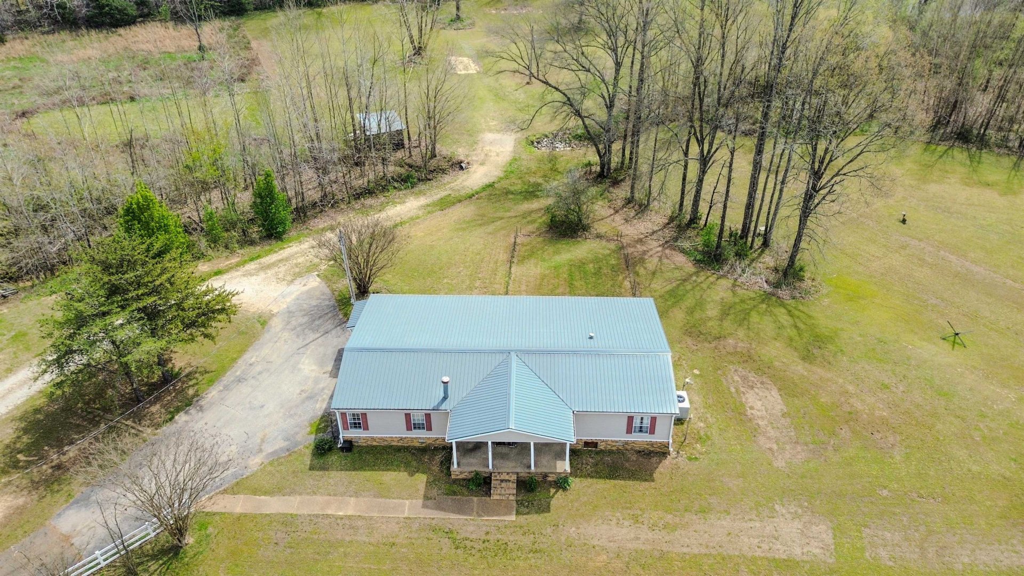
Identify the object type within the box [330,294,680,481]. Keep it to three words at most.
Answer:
house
